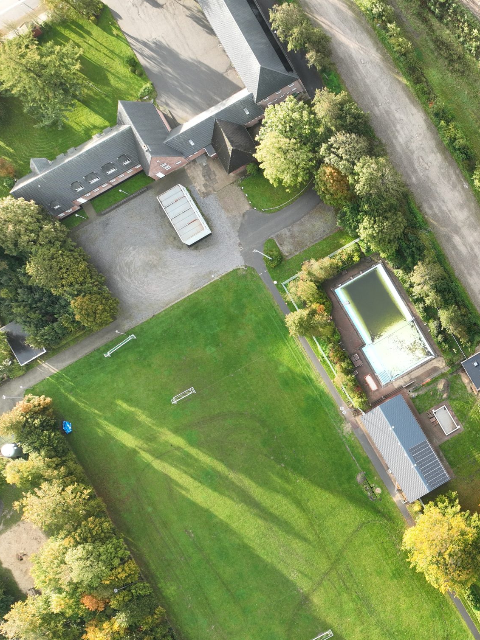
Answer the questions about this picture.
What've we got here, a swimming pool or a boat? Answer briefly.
swimming pool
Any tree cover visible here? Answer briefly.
Yes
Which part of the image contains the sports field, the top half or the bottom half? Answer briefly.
bottom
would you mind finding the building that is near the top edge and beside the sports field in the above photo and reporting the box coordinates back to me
[8,0,305,225]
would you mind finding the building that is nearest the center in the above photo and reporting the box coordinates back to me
[156,184,215,244]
